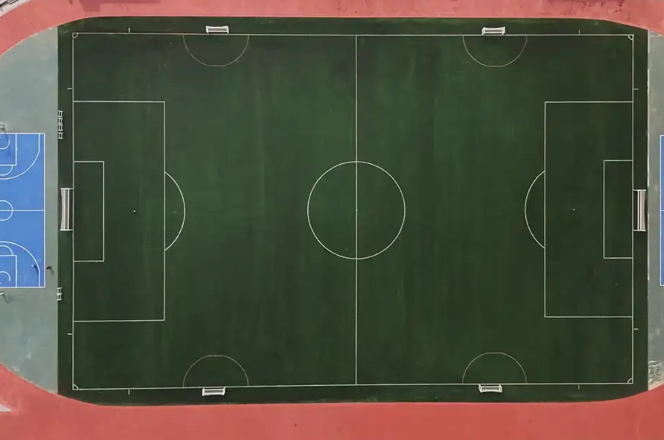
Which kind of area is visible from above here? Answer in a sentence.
It's a sports ground.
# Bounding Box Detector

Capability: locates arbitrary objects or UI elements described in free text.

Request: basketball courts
[0,28,58,392]
[647,30,664,390]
